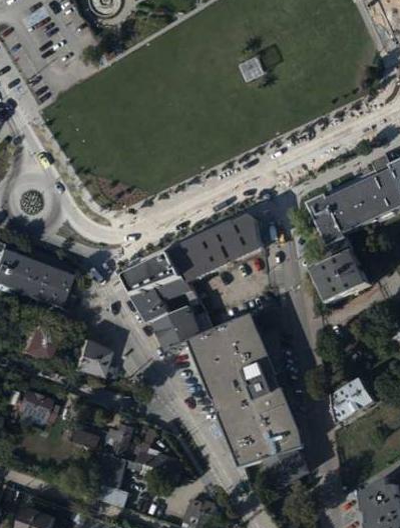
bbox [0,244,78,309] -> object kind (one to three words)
building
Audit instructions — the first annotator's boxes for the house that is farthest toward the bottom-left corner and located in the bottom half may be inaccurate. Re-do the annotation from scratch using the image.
[13,506,57,528]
